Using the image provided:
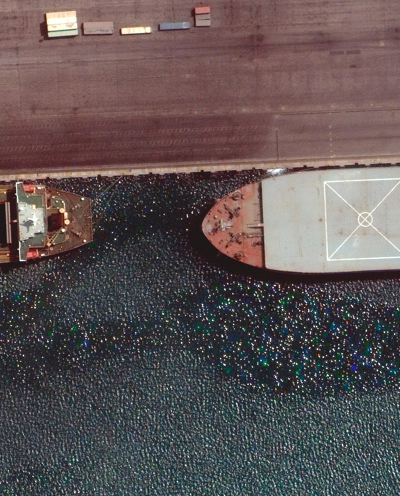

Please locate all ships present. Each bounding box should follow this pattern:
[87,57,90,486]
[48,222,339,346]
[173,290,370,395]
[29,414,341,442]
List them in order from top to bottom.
[202,164,400,272]
[0,182,92,263]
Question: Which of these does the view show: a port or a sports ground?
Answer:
port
